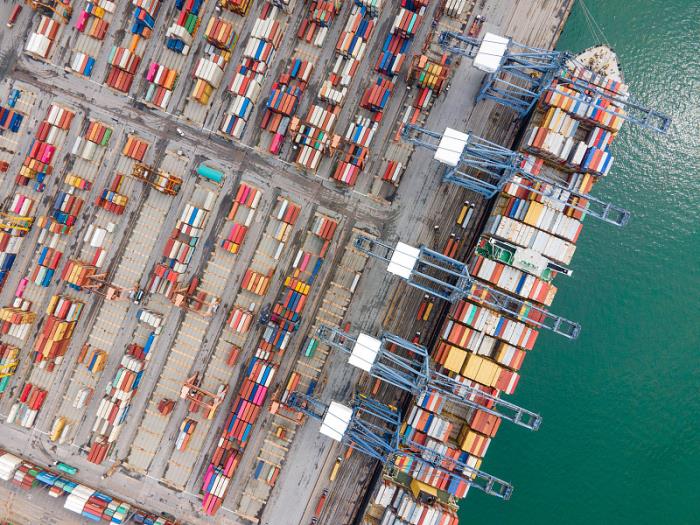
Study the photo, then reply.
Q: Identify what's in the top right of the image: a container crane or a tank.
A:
container crane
